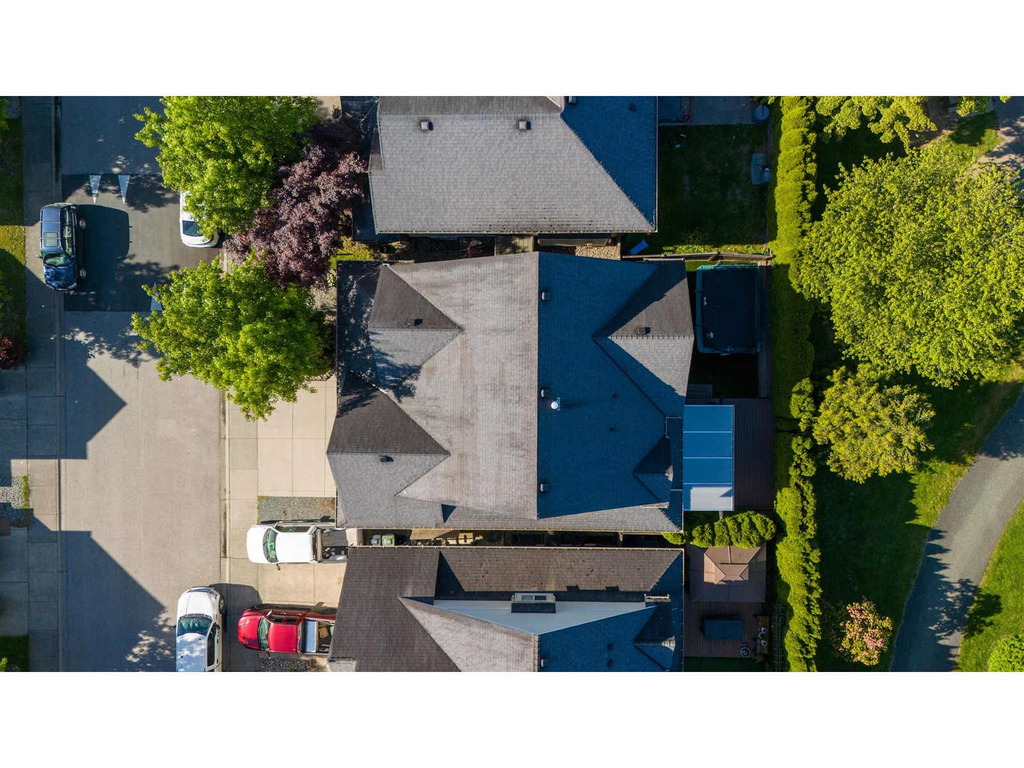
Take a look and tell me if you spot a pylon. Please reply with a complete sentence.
No, there isn't any pylon down there.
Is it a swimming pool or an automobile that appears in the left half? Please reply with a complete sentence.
There is an automobile in the left half.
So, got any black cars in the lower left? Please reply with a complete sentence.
No, the scene shows no black car in the lower left.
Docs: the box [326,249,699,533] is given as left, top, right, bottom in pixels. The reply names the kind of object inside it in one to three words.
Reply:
house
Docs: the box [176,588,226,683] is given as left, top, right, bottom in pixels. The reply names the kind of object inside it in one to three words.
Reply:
car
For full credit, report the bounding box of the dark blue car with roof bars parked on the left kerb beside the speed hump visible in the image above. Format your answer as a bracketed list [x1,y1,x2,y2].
[36,205,88,290]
